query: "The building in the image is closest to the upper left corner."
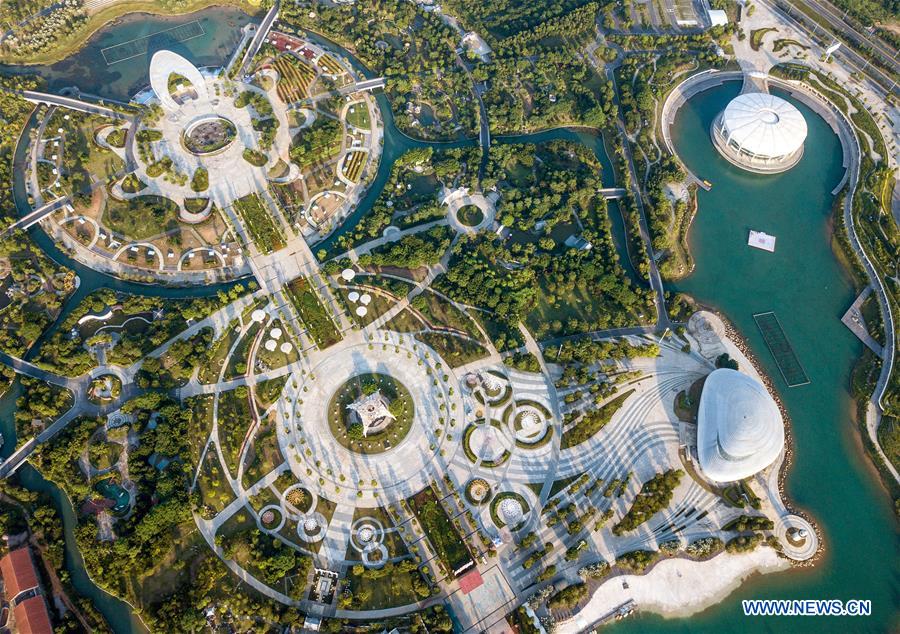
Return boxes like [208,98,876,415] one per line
[150,50,207,111]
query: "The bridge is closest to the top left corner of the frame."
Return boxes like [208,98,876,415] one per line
[18,89,116,118]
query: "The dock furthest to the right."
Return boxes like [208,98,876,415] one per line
[841,285,886,359]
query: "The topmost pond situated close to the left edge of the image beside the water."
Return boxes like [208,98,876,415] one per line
[0,0,297,107]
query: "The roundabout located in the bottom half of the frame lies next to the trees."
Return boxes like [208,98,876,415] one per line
[77,364,132,414]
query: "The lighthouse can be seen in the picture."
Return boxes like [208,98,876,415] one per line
[786,528,808,550]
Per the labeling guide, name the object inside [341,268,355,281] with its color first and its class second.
white umbrella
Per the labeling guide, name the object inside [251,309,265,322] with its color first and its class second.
white umbrella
